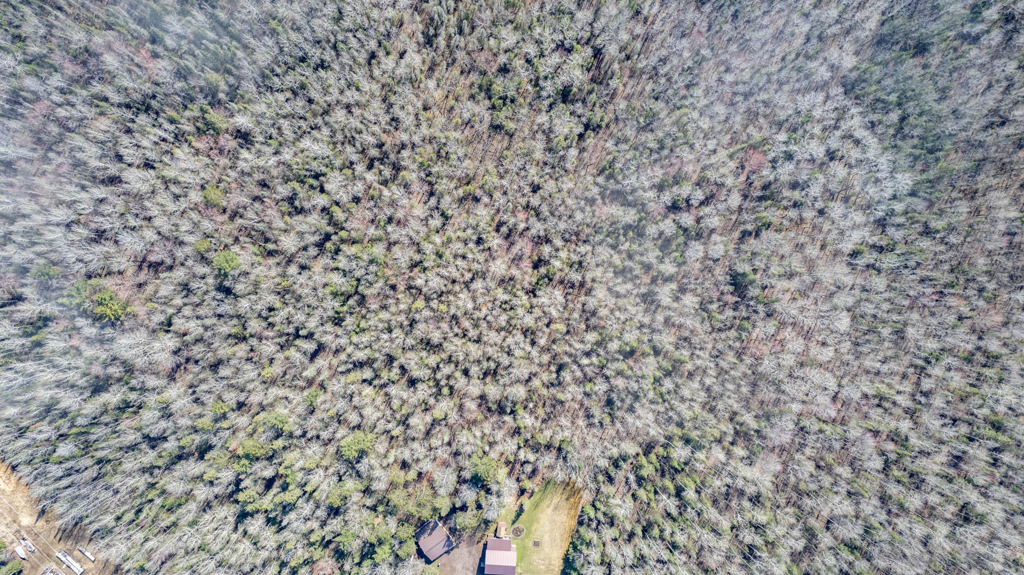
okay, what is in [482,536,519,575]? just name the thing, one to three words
house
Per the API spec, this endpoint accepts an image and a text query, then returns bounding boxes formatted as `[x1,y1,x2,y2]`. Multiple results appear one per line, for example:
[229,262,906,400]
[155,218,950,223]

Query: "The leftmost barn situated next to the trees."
[416,519,455,559]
